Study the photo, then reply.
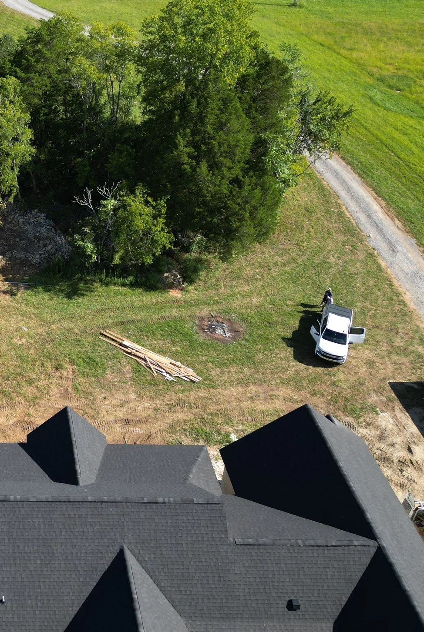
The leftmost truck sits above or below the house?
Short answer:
above it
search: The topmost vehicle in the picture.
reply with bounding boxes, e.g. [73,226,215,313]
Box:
[303,303,369,368]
